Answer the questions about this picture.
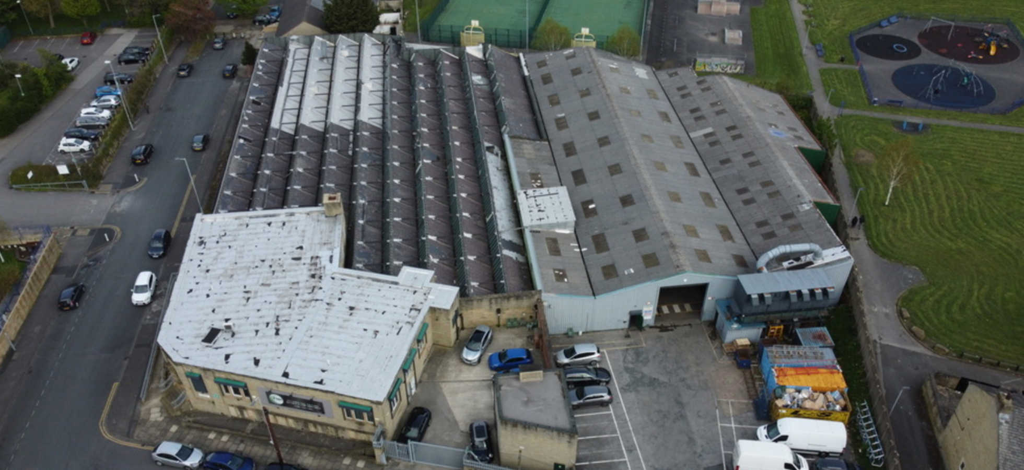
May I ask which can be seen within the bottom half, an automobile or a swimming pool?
automobile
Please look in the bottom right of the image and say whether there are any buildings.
Yes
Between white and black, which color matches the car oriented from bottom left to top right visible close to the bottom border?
black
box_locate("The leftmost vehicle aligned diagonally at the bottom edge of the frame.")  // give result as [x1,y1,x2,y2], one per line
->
[396,398,435,448]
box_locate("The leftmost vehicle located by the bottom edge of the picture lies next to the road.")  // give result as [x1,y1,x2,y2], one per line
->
[148,445,203,470]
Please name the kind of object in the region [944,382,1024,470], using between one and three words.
house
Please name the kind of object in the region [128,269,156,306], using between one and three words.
car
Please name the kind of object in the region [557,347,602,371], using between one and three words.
car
